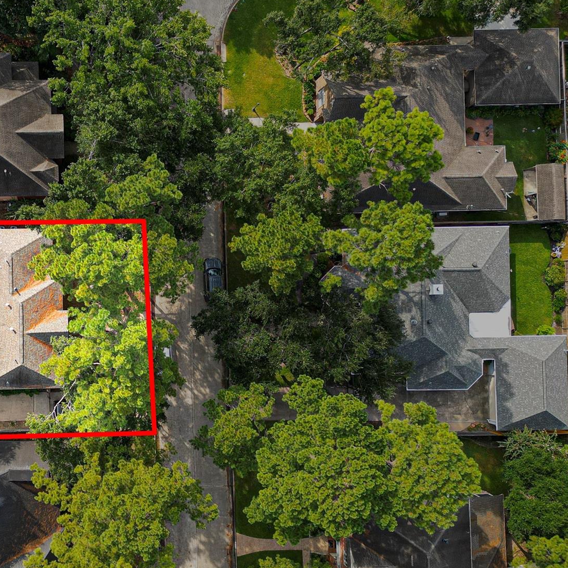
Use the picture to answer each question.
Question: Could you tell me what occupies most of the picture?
trees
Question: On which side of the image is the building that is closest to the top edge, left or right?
right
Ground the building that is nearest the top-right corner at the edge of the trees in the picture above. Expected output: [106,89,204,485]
[463,27,561,107]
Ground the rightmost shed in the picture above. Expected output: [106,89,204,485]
[524,162,568,222]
